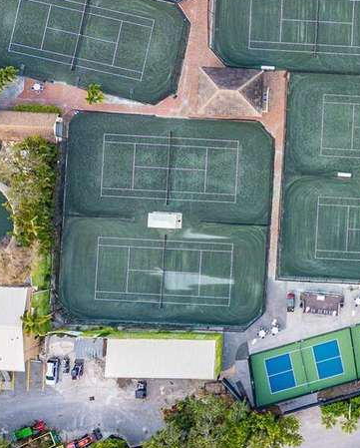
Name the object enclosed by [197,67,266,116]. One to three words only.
building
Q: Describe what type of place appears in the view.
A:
sports ground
